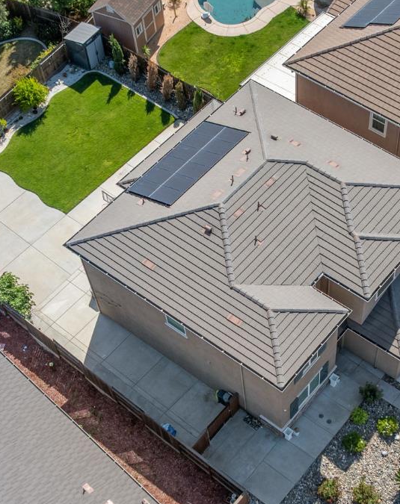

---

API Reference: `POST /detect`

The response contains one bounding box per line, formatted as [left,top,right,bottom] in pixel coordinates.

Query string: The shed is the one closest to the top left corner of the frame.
[66,14,107,69]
